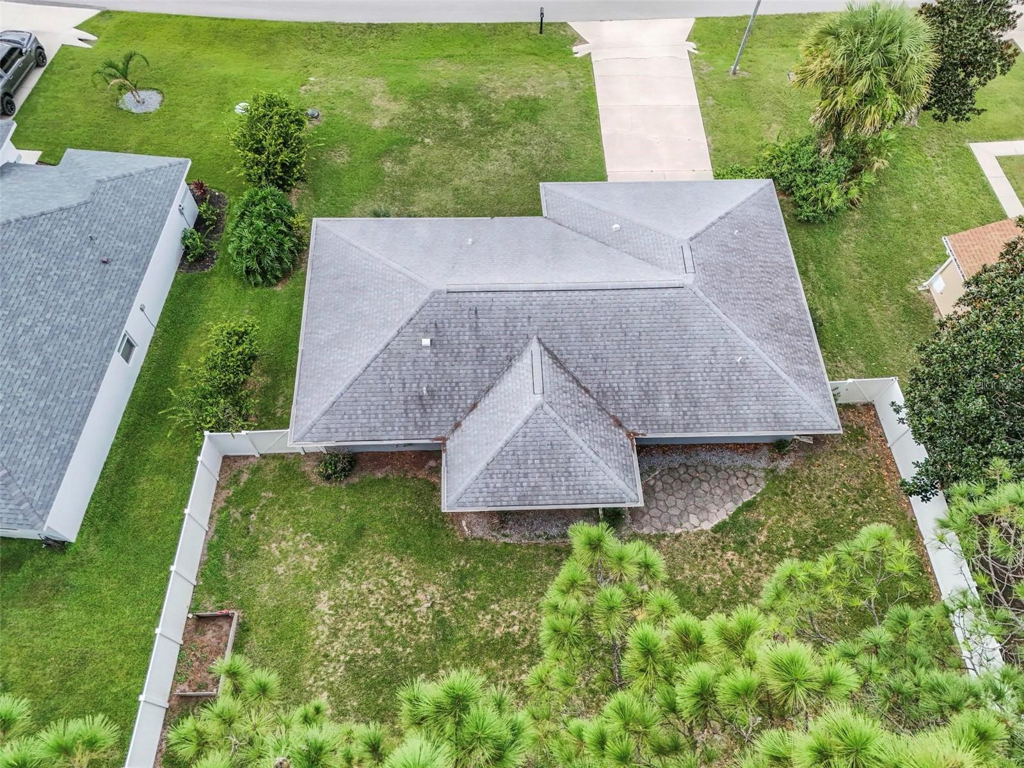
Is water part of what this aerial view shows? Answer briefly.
No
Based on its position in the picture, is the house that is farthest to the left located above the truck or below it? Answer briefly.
below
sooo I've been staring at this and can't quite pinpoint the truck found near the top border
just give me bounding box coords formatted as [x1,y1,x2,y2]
[0,24,45,116]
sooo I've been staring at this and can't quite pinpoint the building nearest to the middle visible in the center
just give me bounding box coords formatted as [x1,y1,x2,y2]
[289,179,841,527]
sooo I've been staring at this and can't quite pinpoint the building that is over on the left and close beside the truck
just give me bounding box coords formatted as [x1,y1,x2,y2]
[0,121,197,541]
